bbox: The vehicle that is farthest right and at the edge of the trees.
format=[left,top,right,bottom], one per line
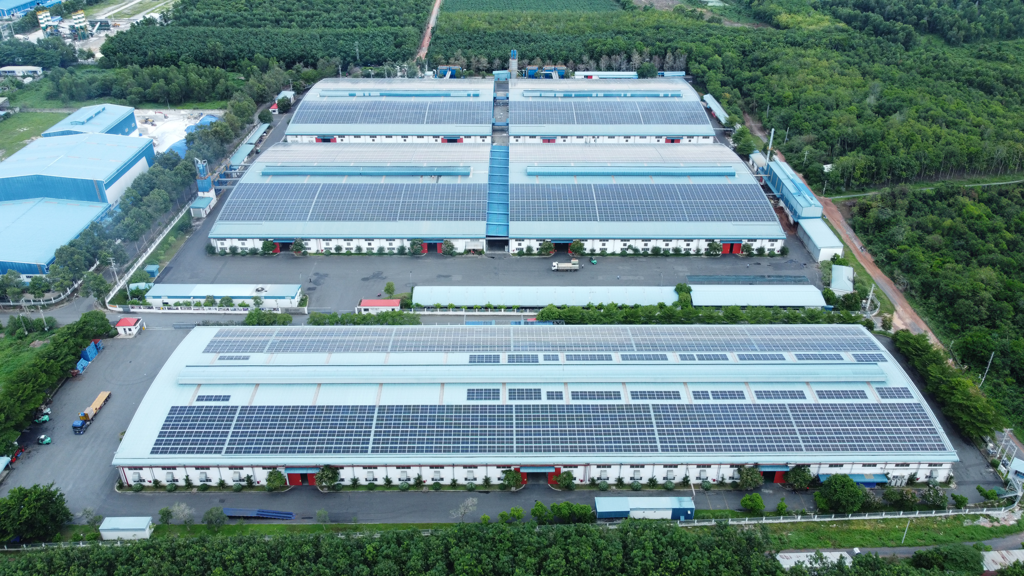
[853,542,865,561]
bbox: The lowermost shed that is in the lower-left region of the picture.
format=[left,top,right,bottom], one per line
[100,518,153,538]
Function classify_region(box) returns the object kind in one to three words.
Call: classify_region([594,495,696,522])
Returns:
building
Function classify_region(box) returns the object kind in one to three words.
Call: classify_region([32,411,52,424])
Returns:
vehicle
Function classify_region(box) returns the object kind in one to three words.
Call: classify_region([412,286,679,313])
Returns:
shed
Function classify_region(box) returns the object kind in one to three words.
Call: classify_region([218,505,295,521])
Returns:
vehicle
